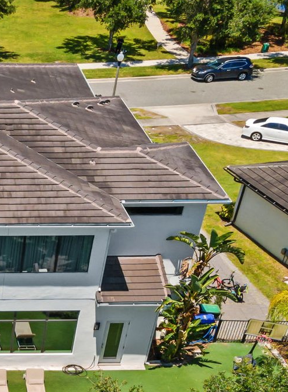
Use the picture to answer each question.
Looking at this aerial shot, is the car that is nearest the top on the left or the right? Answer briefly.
right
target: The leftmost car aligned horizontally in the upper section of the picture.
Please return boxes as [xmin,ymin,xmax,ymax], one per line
[186,48,256,80]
